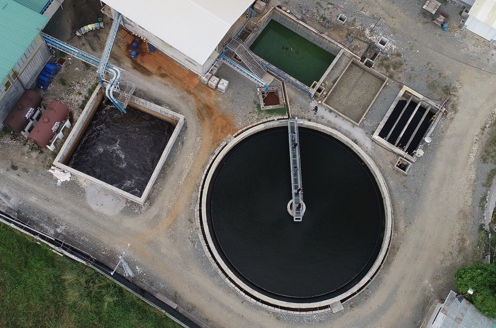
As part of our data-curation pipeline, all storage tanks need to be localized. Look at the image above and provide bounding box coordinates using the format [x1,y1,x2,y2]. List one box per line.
[197,114,393,314]
[3,85,45,134]
[55,81,188,206]
[29,95,73,147]
[372,87,447,162]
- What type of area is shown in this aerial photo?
industrial area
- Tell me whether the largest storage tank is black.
Yes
